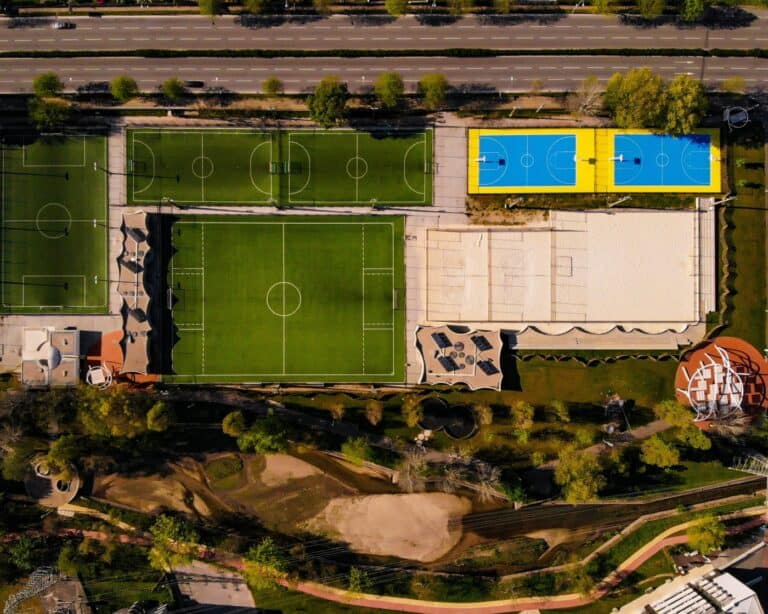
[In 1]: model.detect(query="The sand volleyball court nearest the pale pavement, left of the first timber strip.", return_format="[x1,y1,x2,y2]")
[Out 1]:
[427,231,488,321]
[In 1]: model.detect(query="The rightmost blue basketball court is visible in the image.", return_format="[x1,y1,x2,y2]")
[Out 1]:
[602,129,721,193]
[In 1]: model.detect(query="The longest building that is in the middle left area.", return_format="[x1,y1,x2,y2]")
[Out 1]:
[115,210,154,376]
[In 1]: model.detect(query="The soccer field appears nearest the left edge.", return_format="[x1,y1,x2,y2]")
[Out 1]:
[0,130,107,313]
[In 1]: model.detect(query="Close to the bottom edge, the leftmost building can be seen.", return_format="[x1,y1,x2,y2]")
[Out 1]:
[40,576,96,614]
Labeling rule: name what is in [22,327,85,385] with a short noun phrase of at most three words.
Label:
building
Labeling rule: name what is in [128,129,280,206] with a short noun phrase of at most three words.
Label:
soccer field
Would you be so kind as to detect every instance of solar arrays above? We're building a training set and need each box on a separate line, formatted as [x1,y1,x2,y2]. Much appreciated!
[474,334,490,352]
[434,331,450,349]
[440,355,457,373]
[481,359,496,376]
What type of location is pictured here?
sports ground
